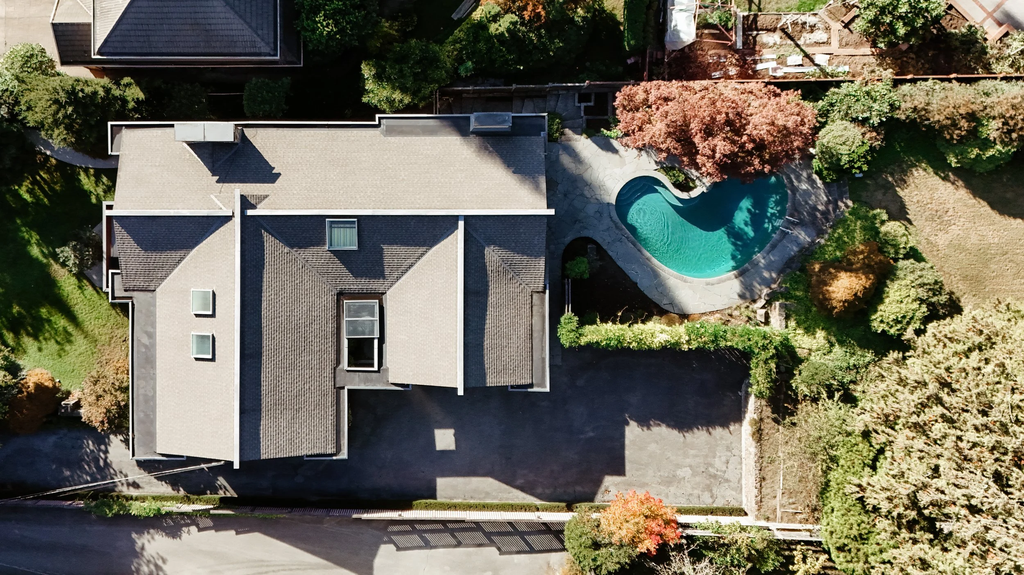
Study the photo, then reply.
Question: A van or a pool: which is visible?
pool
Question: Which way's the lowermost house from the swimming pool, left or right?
to its left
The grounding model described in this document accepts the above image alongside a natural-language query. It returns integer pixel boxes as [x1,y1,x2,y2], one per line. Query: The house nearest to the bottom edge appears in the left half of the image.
[103,113,554,469]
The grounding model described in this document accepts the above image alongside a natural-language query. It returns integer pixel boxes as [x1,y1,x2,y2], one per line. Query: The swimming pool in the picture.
[616,171,789,278]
